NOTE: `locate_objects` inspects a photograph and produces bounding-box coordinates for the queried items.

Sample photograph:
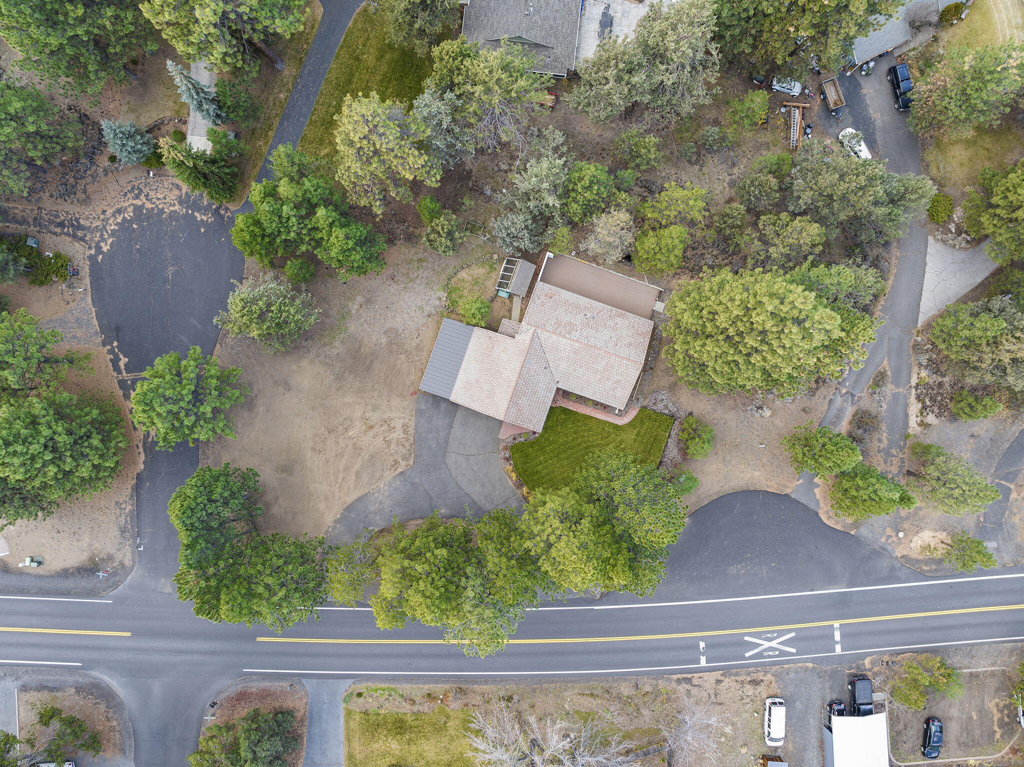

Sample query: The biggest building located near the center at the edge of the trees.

[419,249,667,433]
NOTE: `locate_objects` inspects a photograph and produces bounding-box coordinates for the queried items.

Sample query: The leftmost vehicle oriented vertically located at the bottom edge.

[763,694,787,745]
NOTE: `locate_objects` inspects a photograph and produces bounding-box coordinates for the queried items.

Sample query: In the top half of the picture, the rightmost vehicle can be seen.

[886,61,913,113]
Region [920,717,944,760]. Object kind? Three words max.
car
